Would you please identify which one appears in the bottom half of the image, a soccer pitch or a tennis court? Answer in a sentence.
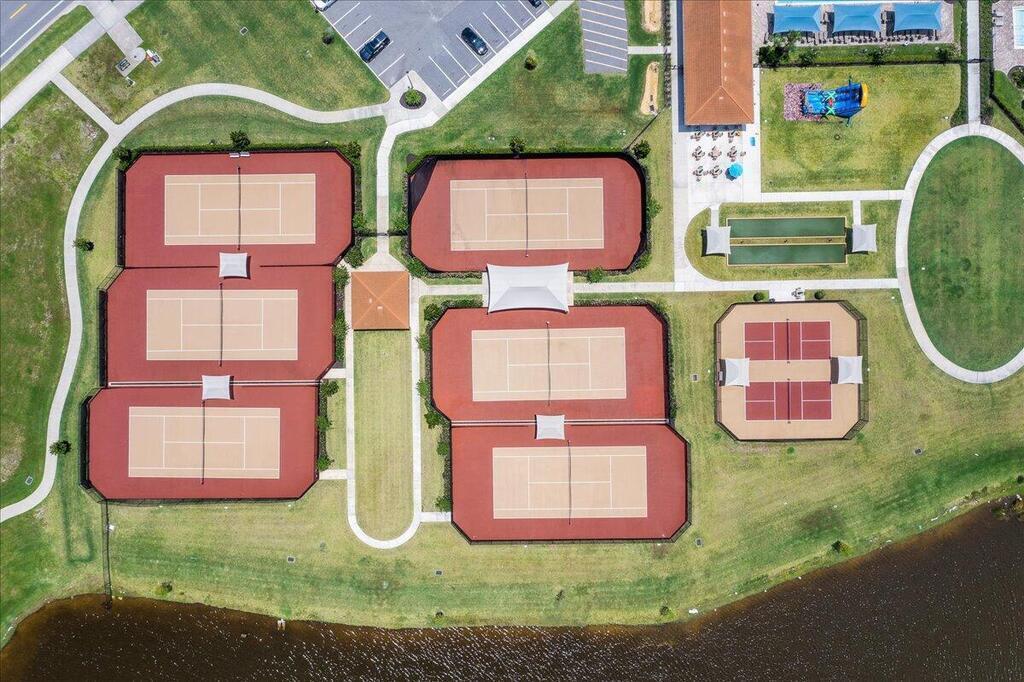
There is a tennis court in the bottom half of the image.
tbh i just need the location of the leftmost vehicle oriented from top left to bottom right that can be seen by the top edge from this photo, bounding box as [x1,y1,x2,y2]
[460,27,488,57]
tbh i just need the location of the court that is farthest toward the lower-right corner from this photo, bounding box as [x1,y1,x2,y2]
[746,378,832,423]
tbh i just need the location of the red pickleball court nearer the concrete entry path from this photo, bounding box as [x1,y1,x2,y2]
[745,318,831,363]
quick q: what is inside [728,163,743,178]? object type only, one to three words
umbrella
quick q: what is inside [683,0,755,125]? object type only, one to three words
building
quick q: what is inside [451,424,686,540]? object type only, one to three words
tennis court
